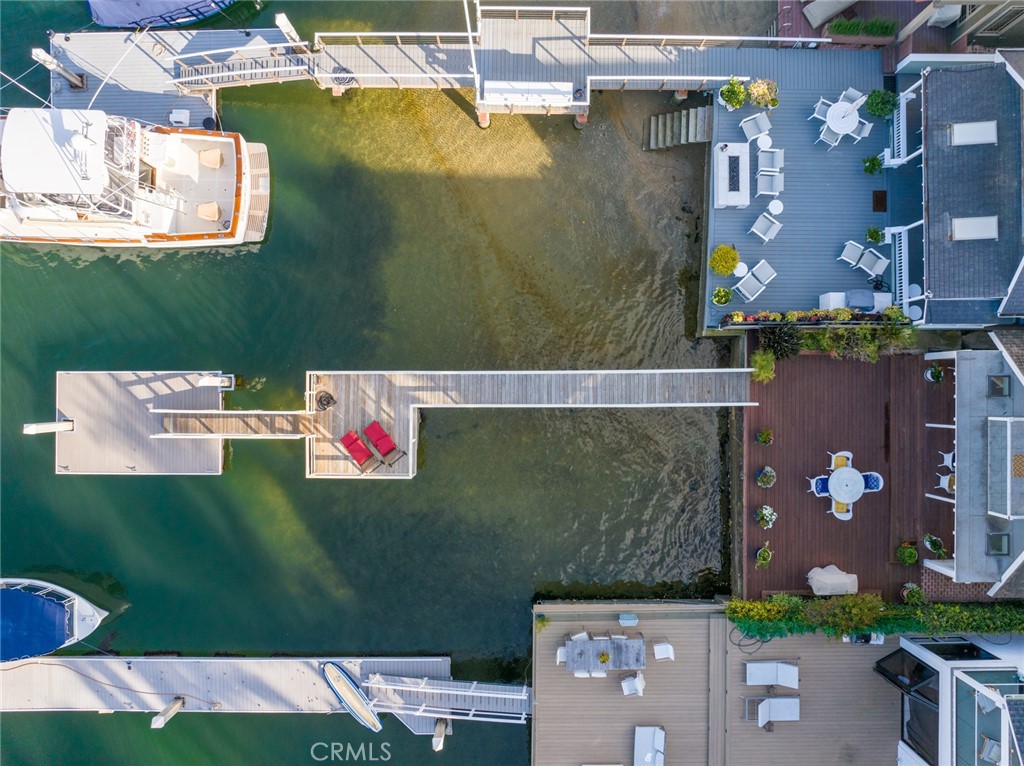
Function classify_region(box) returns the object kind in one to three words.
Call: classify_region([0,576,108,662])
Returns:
boat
